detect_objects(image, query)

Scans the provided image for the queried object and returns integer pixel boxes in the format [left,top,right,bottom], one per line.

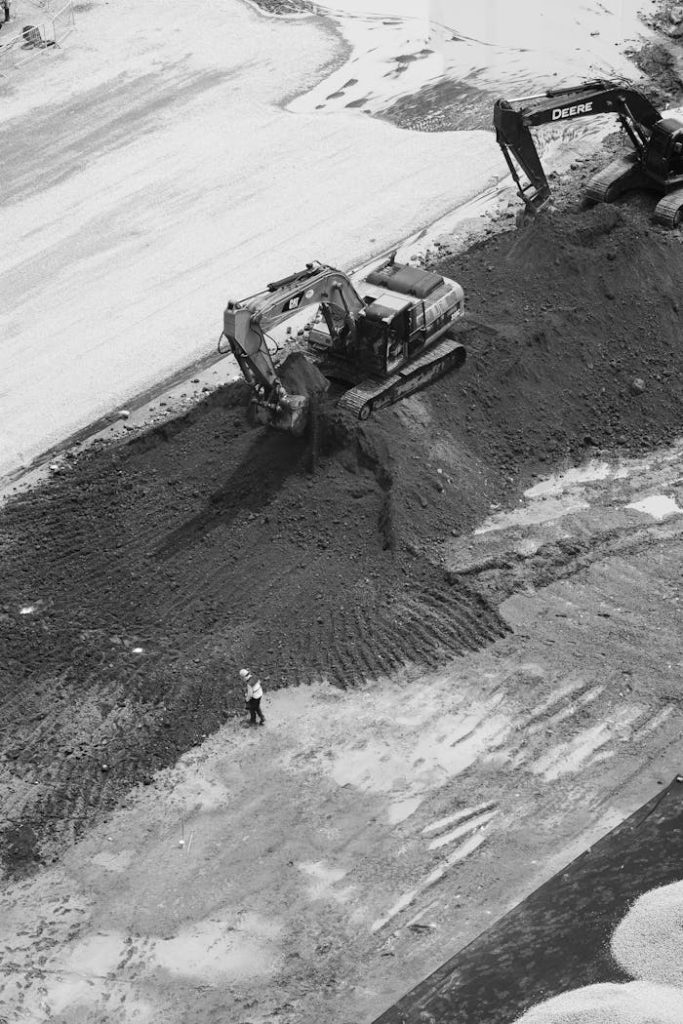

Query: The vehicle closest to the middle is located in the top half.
[218,254,472,436]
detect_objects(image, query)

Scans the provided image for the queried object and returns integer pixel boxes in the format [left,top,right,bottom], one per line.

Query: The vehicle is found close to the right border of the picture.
[495,63,683,231]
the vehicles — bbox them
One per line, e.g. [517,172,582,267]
[495,63,683,231]
[218,254,472,436]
